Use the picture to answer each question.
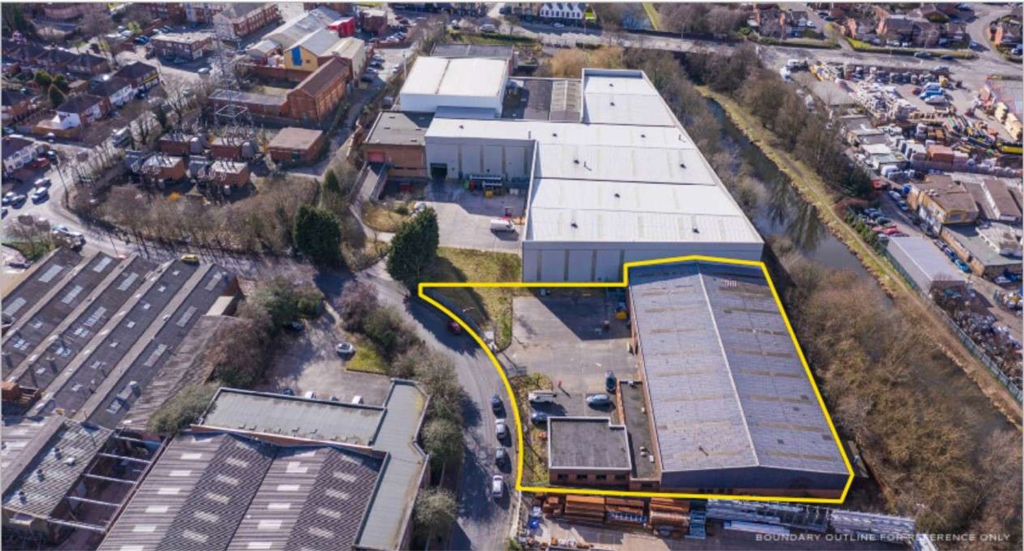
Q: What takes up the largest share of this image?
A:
buildings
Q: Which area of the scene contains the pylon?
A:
top left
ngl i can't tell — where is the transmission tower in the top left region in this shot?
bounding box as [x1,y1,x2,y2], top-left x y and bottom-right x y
[173,0,255,139]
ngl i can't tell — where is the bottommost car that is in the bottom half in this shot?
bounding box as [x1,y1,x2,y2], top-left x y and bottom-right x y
[490,471,505,497]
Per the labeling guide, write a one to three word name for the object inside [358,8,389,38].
building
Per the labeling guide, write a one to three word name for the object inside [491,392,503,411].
vehicle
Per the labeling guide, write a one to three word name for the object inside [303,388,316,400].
vehicle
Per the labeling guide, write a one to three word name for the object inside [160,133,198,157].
house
